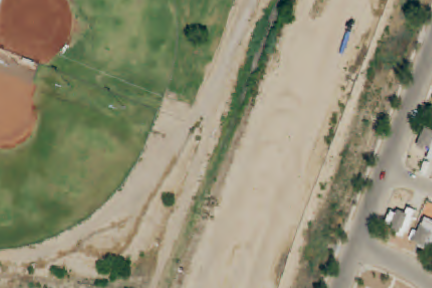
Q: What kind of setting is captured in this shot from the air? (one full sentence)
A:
The area seen from above is a sports ground.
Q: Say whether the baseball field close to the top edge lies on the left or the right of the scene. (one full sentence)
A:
The baseball field close to the top edge appears in the left half of the scene.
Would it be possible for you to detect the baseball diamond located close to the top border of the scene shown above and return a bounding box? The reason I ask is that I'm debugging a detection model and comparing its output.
[0,0,174,96]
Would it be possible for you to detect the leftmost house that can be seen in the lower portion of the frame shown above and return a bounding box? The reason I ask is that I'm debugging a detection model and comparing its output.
[387,206,416,238]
